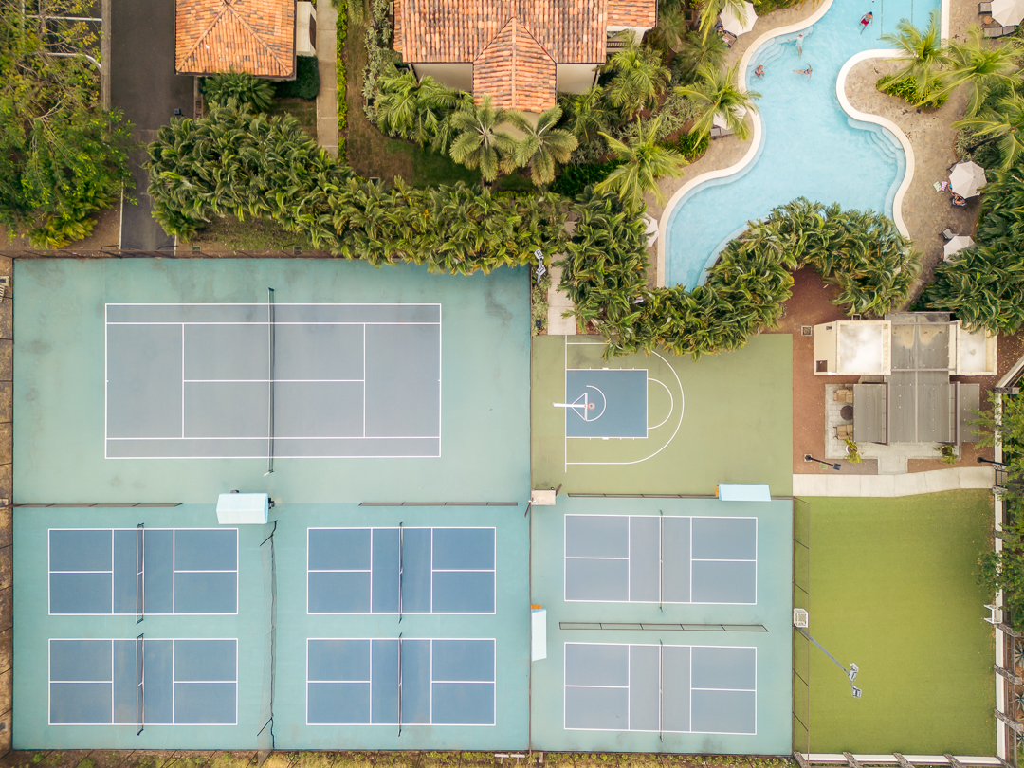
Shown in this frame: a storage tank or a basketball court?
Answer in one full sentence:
It is a basketball court that can be seen here.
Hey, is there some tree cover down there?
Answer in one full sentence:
Yes, tree cover can be seen from above here.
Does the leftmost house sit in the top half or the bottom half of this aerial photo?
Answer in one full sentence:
The leftmost house is in the top half of the image.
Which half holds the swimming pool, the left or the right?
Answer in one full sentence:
The swimming pool appears in the right half of the scene.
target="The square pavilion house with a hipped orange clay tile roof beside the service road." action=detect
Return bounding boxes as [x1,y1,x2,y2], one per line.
[173,0,323,82]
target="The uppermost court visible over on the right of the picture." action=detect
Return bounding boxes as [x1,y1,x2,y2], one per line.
[531,334,793,496]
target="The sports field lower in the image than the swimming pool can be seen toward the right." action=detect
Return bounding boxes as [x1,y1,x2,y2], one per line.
[795,490,996,756]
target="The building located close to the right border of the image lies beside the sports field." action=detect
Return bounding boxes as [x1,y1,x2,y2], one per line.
[816,312,997,445]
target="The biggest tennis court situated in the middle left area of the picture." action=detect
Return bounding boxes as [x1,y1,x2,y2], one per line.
[12,258,530,503]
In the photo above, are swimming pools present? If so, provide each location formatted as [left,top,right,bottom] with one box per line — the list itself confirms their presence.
[654,0,951,305]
